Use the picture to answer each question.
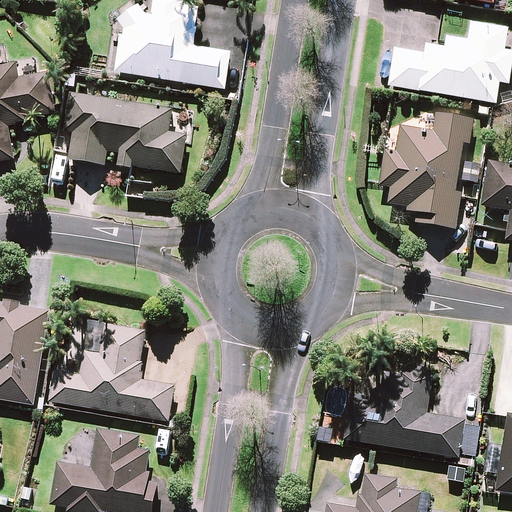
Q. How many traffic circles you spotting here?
1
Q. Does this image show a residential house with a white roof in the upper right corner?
Yes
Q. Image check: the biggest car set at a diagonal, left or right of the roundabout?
to its right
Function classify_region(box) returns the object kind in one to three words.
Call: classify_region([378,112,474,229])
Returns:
house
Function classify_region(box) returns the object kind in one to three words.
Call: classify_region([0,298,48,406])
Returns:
house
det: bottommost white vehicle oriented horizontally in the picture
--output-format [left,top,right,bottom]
[472,237,502,252]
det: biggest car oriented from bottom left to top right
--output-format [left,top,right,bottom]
[448,220,472,246]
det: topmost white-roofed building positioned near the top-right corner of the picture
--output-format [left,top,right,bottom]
[386,20,512,102]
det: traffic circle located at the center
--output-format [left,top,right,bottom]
[198,189,354,346]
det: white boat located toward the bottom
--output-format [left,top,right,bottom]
[351,449,366,484]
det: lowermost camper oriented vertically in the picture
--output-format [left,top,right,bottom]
[156,430,171,462]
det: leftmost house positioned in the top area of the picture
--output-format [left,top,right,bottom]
[0,60,54,162]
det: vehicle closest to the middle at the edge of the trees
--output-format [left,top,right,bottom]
[297,330,311,356]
